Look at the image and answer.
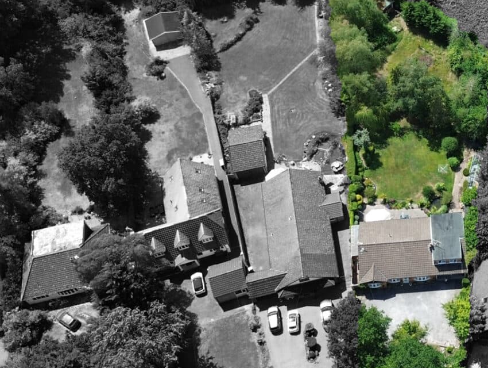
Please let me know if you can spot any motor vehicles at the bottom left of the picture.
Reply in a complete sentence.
Yes, the scene does show a motor vehicle at the bottom left of the picture.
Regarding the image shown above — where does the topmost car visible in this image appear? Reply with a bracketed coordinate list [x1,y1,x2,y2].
[190,271,208,298]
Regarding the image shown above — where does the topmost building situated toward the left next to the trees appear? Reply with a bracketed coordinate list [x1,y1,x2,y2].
[142,11,185,47]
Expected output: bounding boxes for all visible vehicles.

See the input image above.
[285,306,303,339]
[54,308,83,335]
[319,299,338,332]
[190,271,208,298]
[264,304,284,338]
